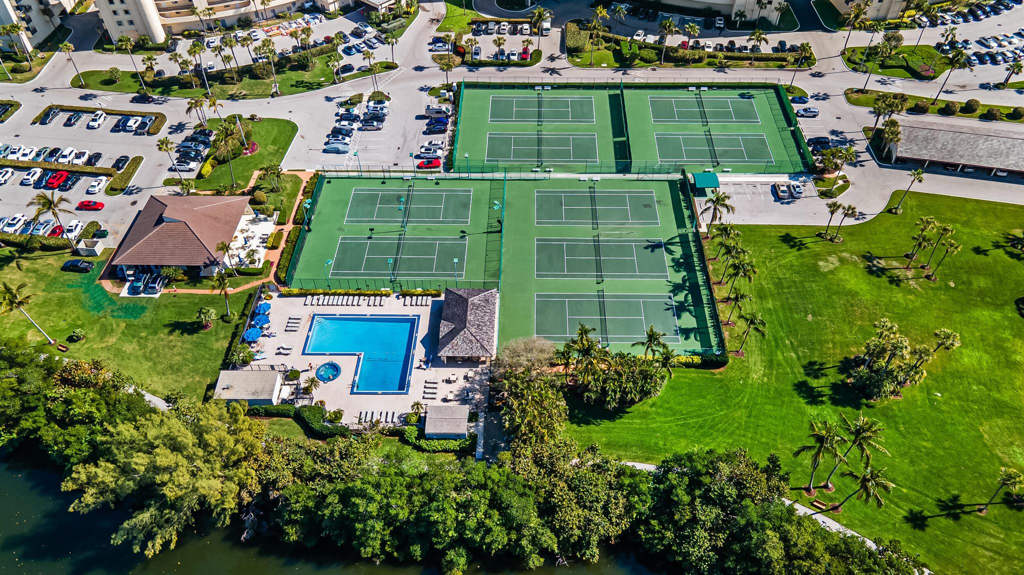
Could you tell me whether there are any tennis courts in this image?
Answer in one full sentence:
Yes, this view includes a tennis court.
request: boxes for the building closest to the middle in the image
[438,288,496,366]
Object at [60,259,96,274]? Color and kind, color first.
black vehicle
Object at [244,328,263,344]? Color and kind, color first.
blue umbrella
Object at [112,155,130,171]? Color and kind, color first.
black car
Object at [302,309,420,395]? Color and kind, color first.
blue swimming pool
